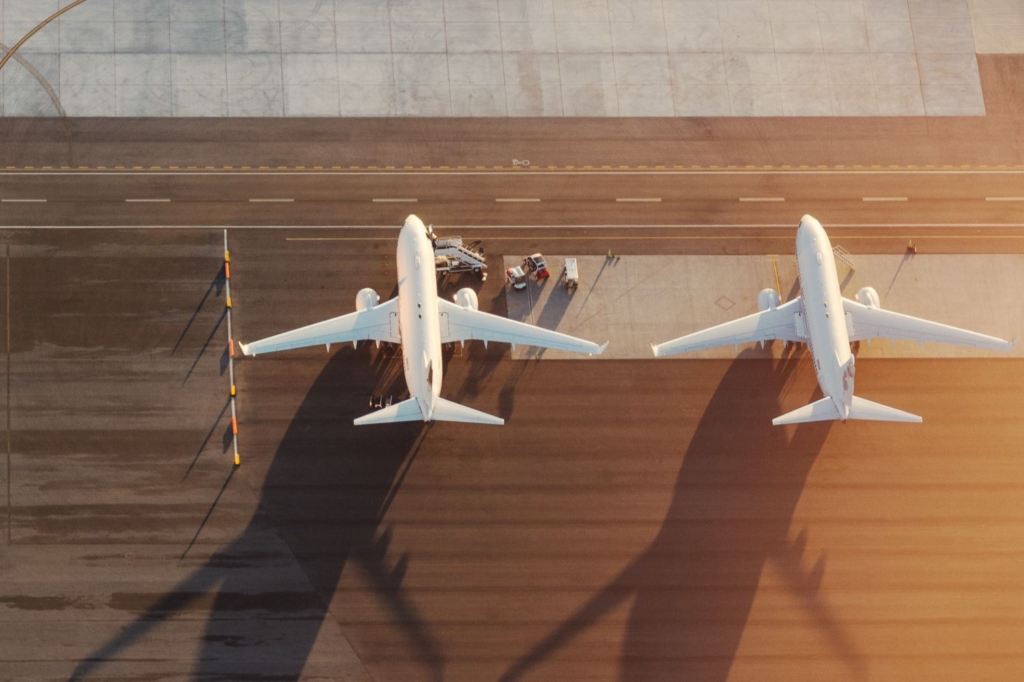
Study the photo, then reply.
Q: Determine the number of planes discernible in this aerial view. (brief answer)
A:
2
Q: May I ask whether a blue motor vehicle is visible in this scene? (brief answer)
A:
No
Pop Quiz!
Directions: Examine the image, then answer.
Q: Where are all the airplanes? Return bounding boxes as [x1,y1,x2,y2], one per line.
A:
[650,215,1019,426]
[237,215,610,426]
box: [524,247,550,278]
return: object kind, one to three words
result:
work vehicle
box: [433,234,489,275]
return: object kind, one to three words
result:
truck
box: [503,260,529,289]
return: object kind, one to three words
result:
work vehicle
